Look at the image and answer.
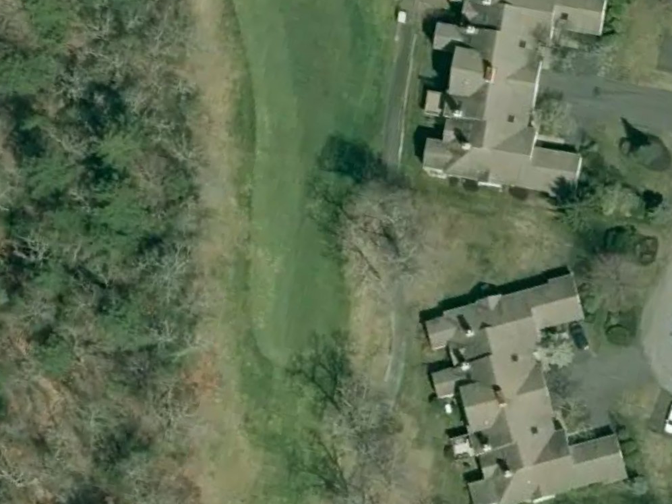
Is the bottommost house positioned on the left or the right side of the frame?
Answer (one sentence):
It is on the right.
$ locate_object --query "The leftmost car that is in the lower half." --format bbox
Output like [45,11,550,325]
[569,319,590,352]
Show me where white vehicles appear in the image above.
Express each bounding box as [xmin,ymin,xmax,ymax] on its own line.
[665,403,672,434]
[397,8,407,25]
